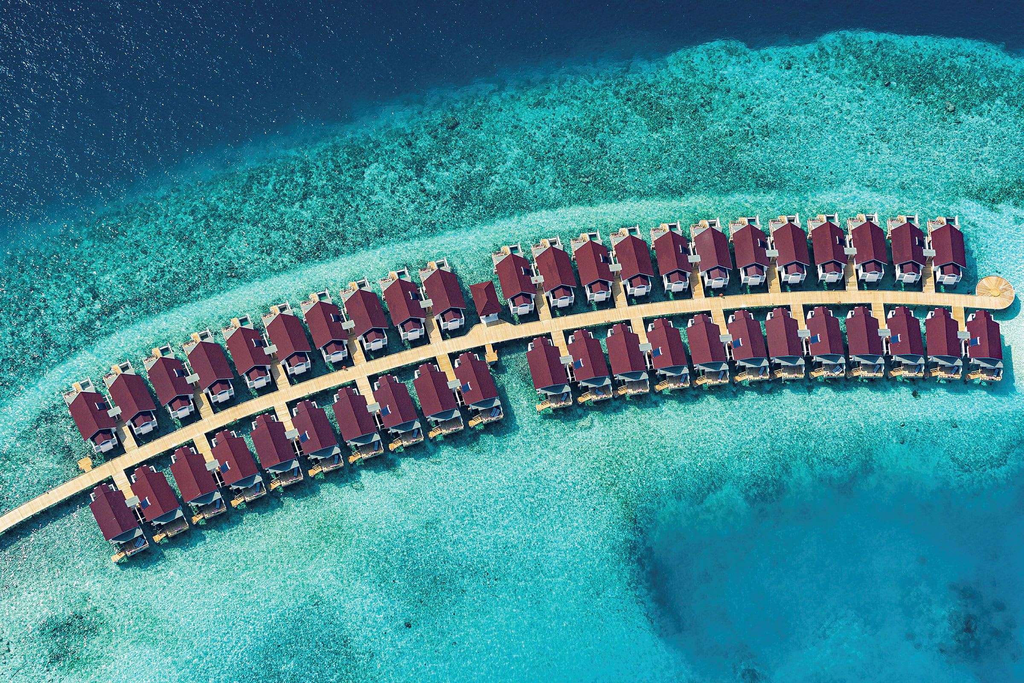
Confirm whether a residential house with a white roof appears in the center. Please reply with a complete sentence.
No, looking in the center, there is no residential house with a white roof.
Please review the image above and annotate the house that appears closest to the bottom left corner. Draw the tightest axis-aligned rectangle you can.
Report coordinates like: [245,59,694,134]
[89,485,149,563]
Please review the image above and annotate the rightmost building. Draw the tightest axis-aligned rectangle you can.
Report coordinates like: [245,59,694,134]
[965,310,1004,385]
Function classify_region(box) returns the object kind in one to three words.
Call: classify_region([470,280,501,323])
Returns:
building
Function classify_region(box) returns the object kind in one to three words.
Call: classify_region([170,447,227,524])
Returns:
house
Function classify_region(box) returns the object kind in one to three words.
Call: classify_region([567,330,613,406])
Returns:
house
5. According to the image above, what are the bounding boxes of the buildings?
[606,324,650,400]
[567,330,613,406]
[292,401,345,478]
[886,306,926,382]
[332,388,384,464]
[647,318,691,395]
[413,364,464,439]
[965,310,1004,385]
[170,447,227,524]
[250,415,304,491]
[454,352,505,428]
[89,485,149,563]
[526,337,573,414]
[727,310,770,386]
[765,308,805,384]
[373,375,425,452]
[131,466,190,543]
[470,280,501,323]
[845,307,885,382]
[923,308,962,383]
[211,431,268,508]
[687,314,730,390]
[806,306,846,382]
